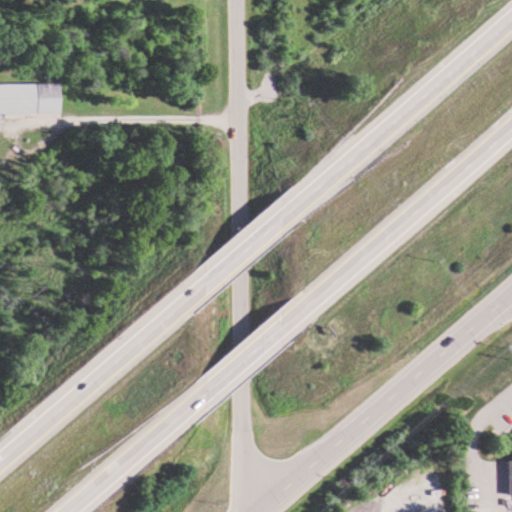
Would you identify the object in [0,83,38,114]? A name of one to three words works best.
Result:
barn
